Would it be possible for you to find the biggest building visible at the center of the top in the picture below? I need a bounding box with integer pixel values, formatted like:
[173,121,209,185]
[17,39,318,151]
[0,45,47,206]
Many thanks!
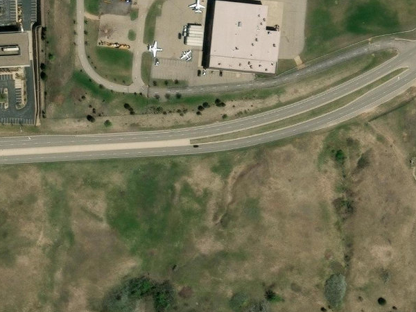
[209,1,280,76]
